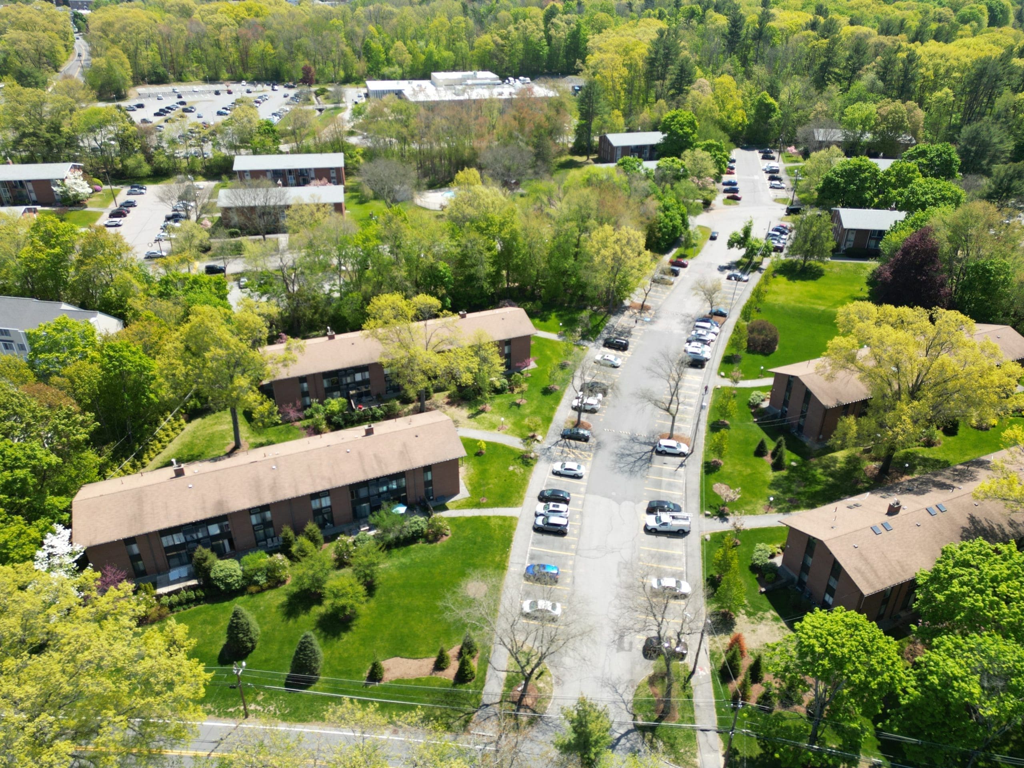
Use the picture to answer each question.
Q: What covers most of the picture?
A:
trees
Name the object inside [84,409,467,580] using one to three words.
building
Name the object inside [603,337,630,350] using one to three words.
vehicle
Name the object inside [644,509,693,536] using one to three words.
truck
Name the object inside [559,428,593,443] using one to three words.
car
